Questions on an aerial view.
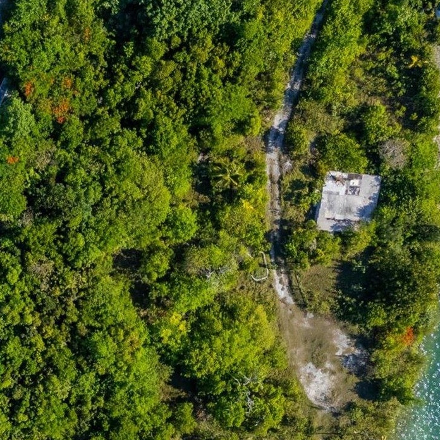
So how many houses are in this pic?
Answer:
1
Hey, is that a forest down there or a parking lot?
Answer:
forest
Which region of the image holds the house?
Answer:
right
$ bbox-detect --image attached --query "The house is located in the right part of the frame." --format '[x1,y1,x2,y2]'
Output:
[311,170,382,232]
